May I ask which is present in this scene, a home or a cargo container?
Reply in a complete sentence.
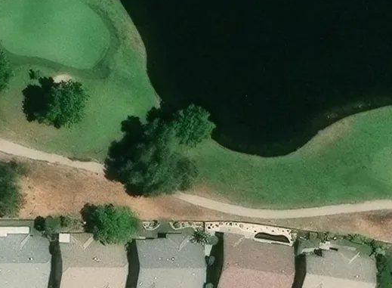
The one in the frame is a home.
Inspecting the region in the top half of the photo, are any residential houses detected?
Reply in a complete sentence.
No, no residential house is visible in the top half of the photo.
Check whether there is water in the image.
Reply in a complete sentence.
Yes, the picture does contain water.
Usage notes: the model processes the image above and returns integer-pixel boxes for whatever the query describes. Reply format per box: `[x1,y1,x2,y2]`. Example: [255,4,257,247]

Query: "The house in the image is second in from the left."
[60,234,128,288]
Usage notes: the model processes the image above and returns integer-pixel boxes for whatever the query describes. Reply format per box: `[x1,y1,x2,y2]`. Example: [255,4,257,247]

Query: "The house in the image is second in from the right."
[218,235,295,288]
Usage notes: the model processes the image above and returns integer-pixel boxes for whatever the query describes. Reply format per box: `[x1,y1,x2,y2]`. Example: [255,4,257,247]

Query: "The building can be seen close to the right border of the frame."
[301,244,377,288]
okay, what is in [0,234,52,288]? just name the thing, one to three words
house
